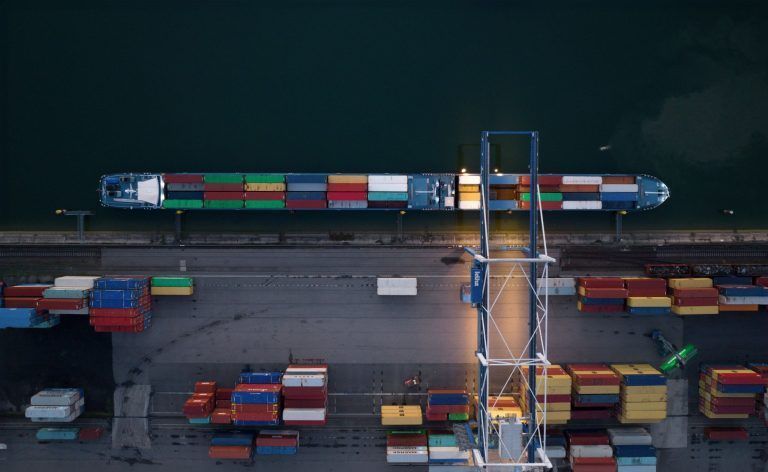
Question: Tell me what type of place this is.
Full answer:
It's a port.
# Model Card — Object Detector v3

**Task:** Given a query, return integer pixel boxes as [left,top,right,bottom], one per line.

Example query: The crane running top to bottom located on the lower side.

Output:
[450,130,561,470]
